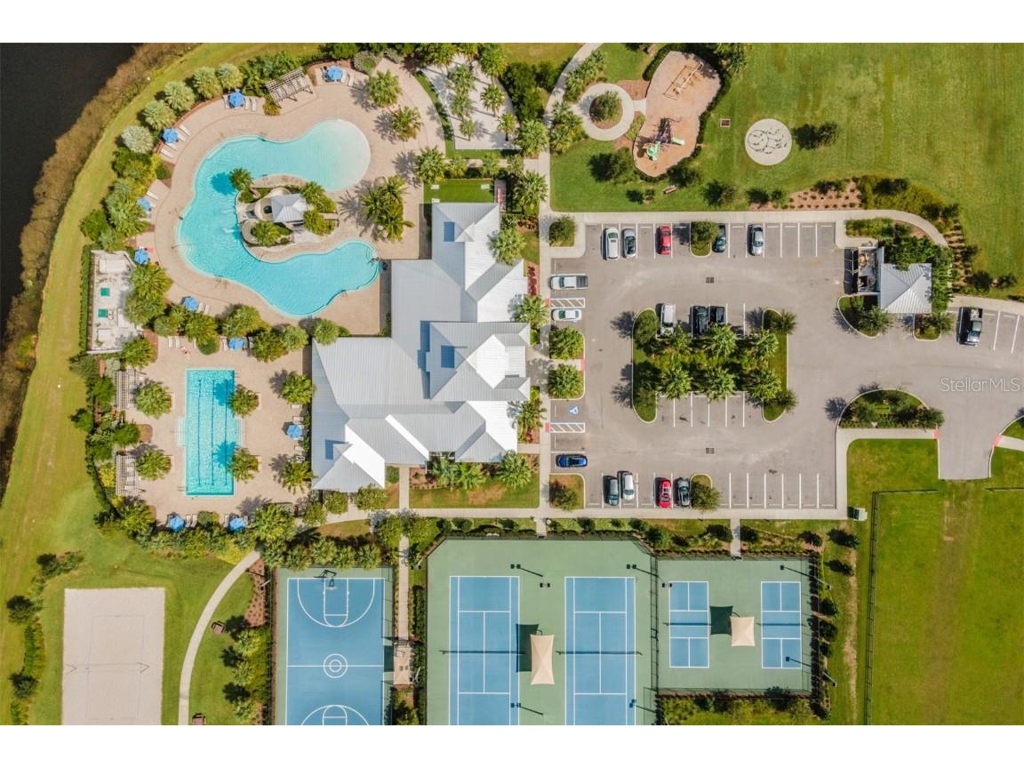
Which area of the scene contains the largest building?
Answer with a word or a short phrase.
center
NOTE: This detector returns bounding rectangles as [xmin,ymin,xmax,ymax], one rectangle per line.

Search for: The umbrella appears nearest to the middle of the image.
[287,423,302,438]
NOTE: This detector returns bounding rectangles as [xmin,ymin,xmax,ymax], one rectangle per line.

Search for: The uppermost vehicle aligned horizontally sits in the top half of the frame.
[549,274,588,289]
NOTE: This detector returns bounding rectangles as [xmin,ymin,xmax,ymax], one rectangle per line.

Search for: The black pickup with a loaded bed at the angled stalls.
[959,307,980,346]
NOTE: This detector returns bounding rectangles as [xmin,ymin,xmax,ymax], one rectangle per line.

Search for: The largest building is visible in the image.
[312,204,530,492]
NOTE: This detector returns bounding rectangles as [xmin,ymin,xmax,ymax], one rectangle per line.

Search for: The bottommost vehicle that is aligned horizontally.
[555,454,588,469]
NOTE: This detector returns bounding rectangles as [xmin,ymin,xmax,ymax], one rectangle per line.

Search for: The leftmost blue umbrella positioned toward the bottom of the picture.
[168,515,184,531]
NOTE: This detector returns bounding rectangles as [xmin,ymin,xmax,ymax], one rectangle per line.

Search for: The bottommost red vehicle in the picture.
[658,478,672,508]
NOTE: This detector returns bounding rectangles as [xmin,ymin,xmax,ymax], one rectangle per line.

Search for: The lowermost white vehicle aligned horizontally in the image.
[551,308,581,322]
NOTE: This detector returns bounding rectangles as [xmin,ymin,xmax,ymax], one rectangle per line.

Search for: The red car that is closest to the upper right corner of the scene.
[658,226,672,256]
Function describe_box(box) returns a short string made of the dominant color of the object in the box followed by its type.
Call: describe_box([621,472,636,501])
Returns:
white car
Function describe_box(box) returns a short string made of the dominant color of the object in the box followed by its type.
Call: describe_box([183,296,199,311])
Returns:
blue umbrella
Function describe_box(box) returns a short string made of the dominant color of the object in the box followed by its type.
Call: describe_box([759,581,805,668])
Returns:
blue sports court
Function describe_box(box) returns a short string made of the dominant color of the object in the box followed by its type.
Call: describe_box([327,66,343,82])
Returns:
blue umbrella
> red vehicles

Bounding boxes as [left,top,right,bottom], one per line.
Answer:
[658,226,672,256]
[658,478,672,508]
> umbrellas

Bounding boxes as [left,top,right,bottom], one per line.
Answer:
[228,91,244,107]
[183,296,199,311]
[134,249,151,264]
[135,198,152,213]
[163,128,180,144]
[287,423,302,438]
[168,515,184,531]
[230,516,245,532]
[327,66,343,82]
[229,336,245,351]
